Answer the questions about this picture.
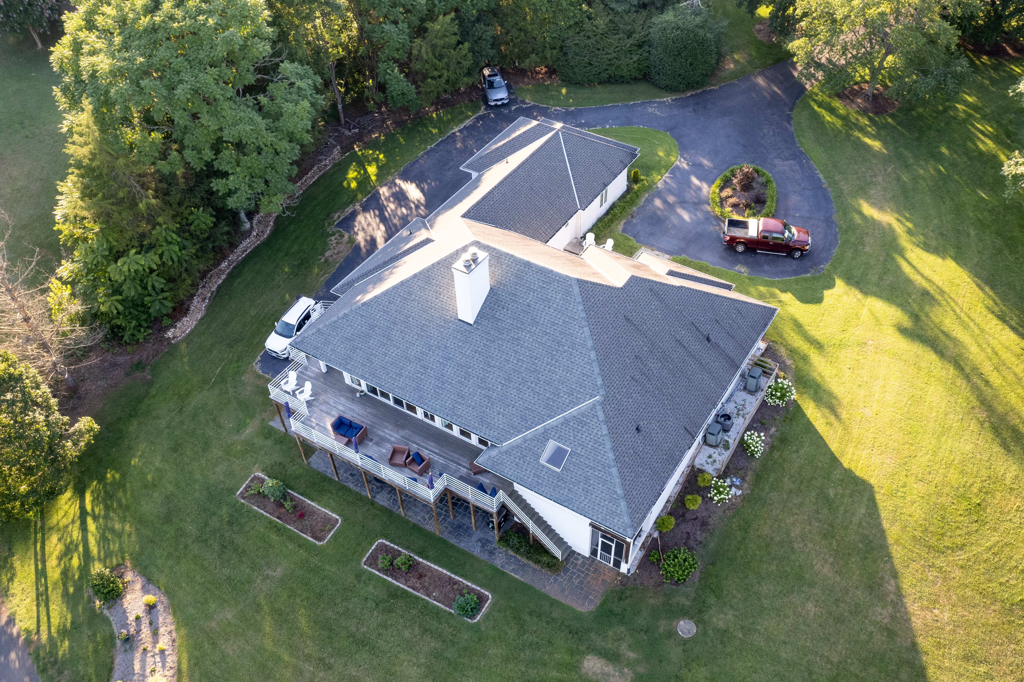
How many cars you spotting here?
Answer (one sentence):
The count of cars comes to 2.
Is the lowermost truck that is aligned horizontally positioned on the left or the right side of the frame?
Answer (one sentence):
The lowermost truck that is aligned horizontally appears in the right half of the scene.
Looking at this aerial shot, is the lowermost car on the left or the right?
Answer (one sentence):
You can find the lowermost car on the left side of the picture.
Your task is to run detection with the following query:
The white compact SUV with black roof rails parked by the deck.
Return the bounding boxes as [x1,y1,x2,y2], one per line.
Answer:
[263,296,321,359]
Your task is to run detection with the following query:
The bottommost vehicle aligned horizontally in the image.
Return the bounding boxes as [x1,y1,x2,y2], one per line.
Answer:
[720,216,817,260]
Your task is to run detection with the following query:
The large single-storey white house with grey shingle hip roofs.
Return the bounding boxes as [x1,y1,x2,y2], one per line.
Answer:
[285,116,781,579]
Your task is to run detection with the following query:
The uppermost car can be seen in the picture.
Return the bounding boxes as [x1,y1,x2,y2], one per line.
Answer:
[483,61,511,103]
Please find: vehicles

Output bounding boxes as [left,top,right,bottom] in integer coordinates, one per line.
[483,61,511,103]
[720,216,817,260]
[263,296,321,359]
